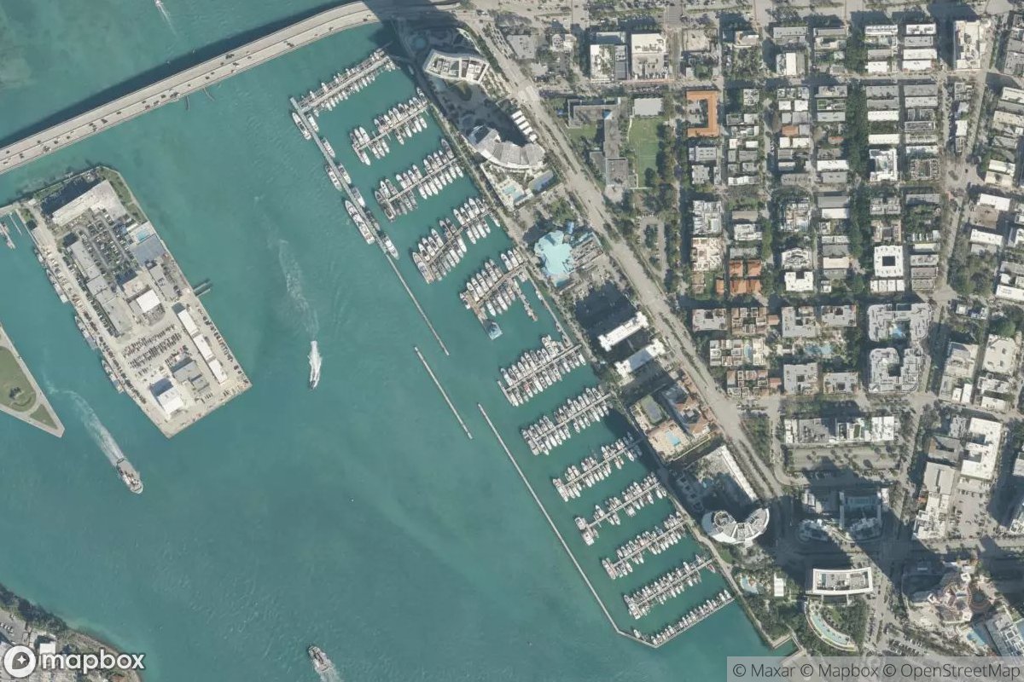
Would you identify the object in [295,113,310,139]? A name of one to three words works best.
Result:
boat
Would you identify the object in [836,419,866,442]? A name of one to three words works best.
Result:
building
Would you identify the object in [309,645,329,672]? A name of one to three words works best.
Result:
ship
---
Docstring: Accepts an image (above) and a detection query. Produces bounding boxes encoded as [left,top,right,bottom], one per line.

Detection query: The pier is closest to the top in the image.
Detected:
[301,51,391,111]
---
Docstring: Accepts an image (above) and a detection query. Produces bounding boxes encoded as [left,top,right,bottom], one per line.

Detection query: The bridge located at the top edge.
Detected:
[0,0,381,170]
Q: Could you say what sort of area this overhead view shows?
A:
port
